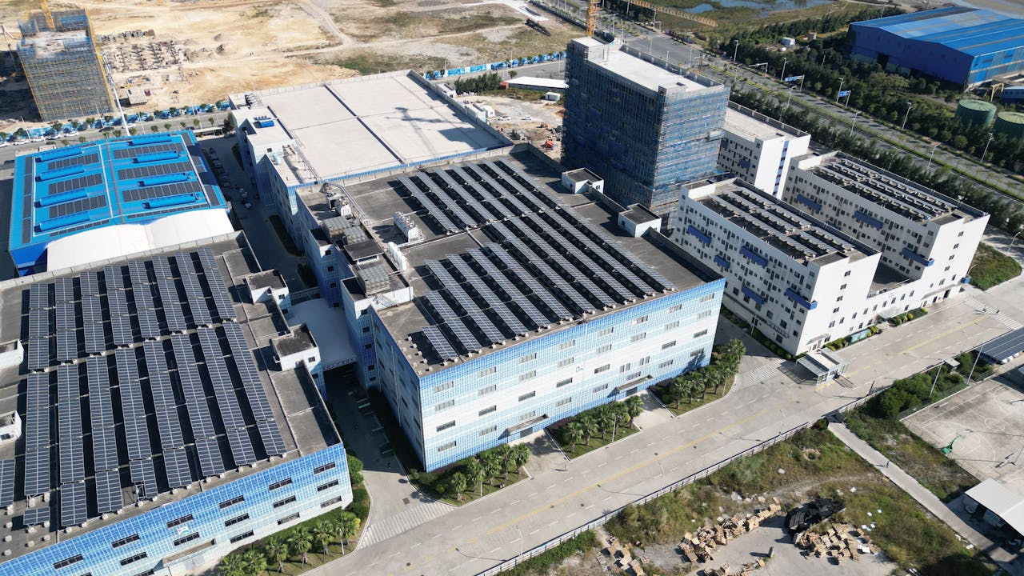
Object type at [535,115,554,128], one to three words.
vehicle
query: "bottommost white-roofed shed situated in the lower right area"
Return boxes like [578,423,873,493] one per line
[963,475,1024,531]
